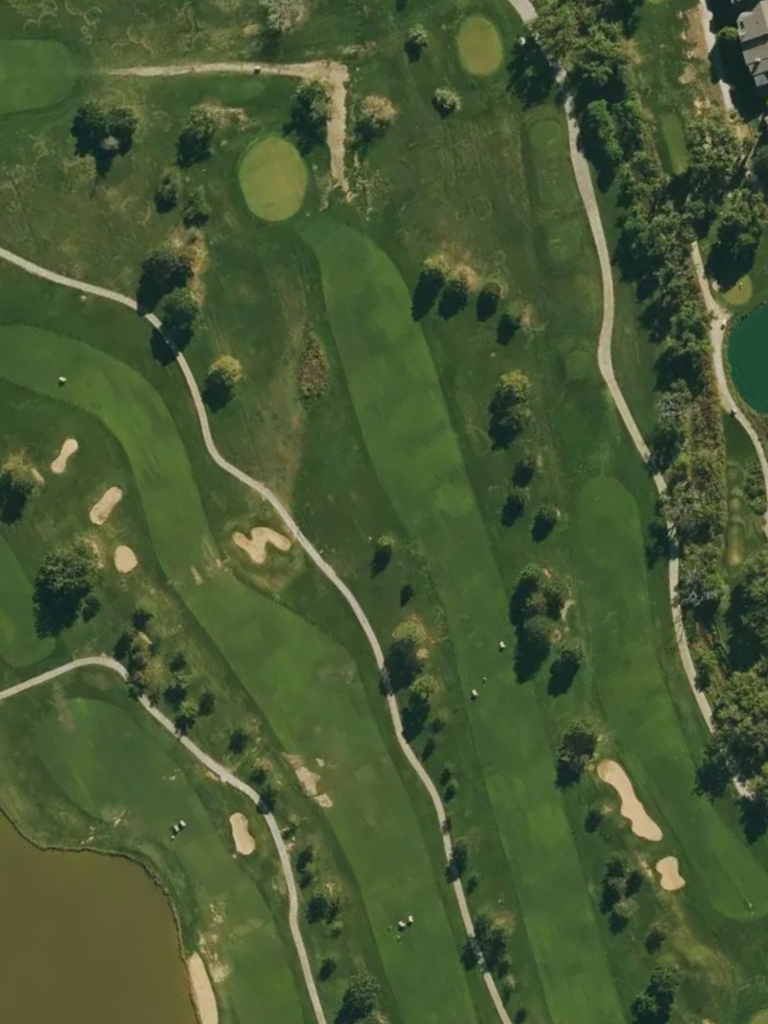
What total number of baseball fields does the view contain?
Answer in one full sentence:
There are no baseball fields in this view.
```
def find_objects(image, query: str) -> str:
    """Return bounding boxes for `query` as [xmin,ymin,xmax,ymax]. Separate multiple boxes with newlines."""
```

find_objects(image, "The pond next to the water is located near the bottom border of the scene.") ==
[0,808,197,1024]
